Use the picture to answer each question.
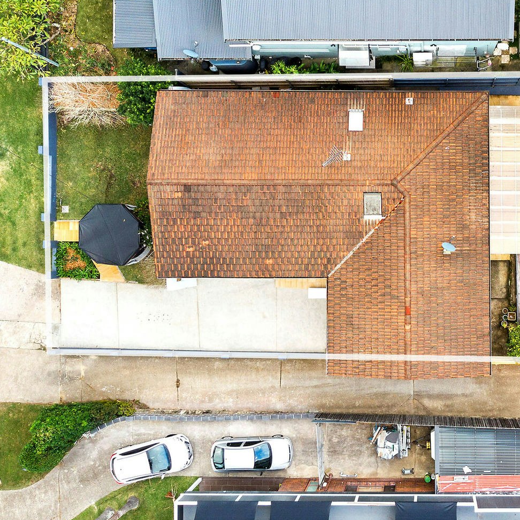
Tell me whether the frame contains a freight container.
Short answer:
No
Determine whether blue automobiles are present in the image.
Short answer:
No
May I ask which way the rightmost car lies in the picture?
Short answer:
from left to right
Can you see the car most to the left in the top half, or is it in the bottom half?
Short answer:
bottom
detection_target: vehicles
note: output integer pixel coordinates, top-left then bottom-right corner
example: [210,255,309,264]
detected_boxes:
[105,435,197,487]
[210,435,292,478]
